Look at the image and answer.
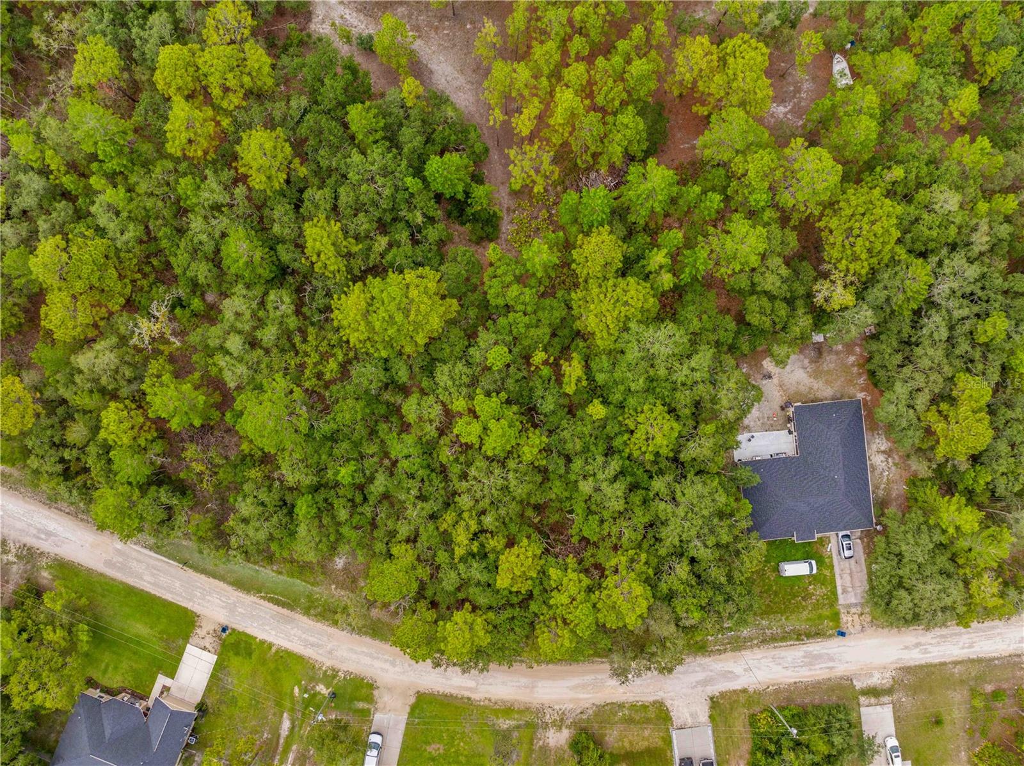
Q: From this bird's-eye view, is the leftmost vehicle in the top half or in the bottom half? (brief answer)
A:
bottom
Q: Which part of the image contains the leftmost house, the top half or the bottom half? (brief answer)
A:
bottom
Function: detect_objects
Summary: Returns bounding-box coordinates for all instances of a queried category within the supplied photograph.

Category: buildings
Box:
[51,688,201,766]
[736,398,875,544]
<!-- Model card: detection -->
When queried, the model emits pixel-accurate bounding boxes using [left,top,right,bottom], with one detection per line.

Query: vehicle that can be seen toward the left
[365,730,385,766]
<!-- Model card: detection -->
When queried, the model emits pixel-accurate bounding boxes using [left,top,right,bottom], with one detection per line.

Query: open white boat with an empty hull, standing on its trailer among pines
[835,53,854,90]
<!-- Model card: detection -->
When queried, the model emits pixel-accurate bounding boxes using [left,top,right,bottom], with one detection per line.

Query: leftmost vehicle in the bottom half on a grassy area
[775,558,816,577]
